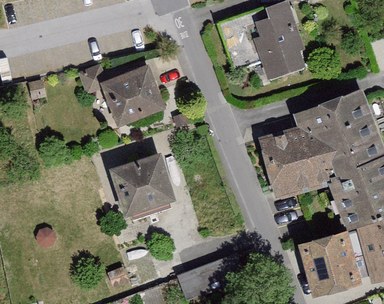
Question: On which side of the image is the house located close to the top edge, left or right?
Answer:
right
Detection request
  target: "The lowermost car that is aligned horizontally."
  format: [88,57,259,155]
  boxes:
[274,210,298,224]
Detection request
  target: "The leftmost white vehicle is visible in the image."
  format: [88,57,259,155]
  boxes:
[0,58,12,82]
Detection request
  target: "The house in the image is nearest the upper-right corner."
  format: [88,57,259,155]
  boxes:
[255,0,306,82]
